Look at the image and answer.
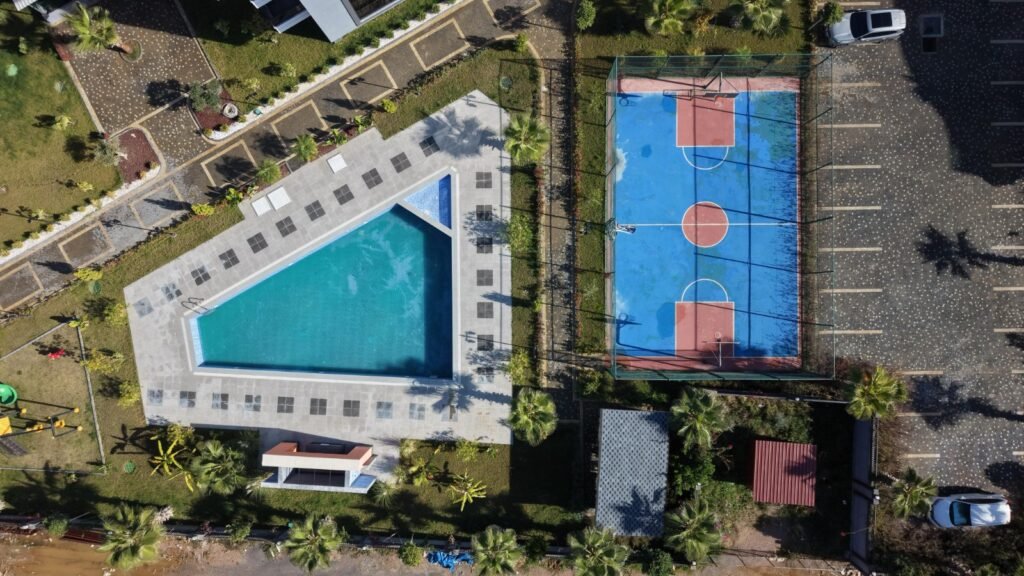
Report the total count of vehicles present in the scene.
2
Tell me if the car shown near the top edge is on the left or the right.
right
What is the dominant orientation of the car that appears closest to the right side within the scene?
from left to right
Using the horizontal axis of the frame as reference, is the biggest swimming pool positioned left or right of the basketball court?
left of it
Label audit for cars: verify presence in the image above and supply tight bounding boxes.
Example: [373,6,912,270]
[825,7,904,46]
[927,492,1008,531]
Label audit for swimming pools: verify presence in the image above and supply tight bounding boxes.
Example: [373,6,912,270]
[180,167,458,388]
[405,175,450,228]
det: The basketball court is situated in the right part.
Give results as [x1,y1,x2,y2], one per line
[609,78,802,370]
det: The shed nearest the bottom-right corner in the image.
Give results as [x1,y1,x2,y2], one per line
[746,437,816,506]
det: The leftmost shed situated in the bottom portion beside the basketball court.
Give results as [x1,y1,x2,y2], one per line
[593,403,668,538]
